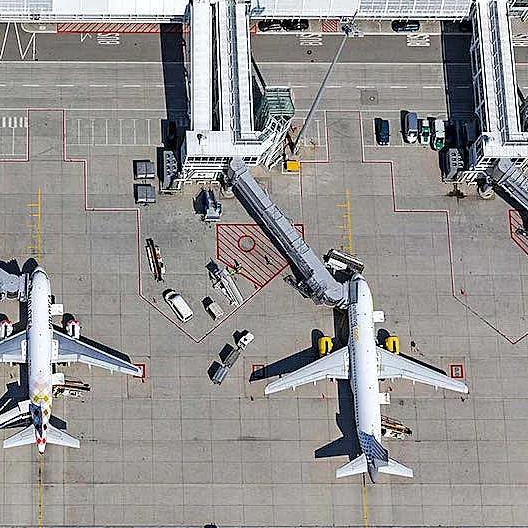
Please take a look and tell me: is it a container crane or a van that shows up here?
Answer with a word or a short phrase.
van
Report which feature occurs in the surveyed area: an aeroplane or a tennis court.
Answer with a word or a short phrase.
aeroplane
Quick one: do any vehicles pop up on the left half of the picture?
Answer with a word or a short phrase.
Yes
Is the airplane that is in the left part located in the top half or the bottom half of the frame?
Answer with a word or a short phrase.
bottom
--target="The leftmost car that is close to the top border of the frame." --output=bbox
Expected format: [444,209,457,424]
[257,20,283,32]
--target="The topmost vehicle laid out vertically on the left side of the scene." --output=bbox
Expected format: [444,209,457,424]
[164,118,176,144]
